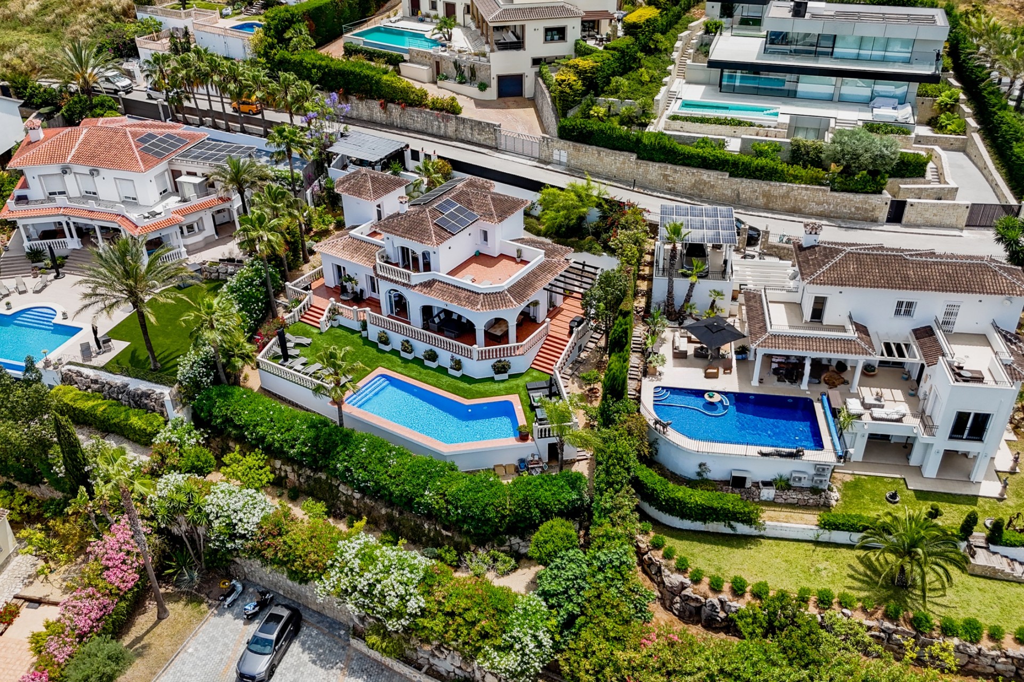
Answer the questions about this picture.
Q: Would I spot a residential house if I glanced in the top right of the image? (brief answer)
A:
Yes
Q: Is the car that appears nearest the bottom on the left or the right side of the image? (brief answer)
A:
left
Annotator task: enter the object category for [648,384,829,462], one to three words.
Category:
swimming pool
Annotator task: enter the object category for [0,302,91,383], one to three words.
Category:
swimming pool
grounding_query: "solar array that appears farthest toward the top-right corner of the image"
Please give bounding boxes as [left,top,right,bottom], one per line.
[659,205,737,244]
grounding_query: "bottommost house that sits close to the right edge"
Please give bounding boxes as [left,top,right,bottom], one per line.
[746,220,1024,482]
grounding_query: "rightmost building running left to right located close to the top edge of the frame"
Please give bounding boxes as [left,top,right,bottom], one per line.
[706,0,953,118]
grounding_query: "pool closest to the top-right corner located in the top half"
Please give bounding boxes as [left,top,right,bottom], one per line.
[679,100,780,117]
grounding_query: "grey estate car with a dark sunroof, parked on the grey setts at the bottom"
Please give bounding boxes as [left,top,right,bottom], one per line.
[238,604,299,677]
